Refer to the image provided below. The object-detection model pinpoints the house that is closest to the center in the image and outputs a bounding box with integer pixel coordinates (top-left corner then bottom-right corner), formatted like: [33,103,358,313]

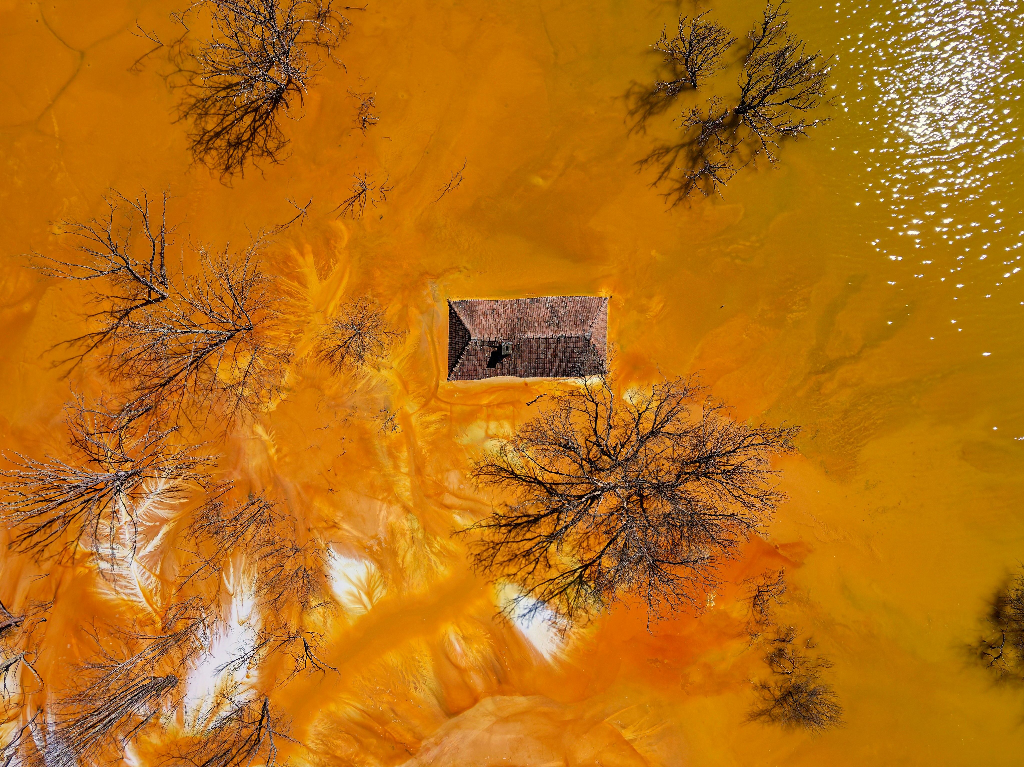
[447,295,610,383]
